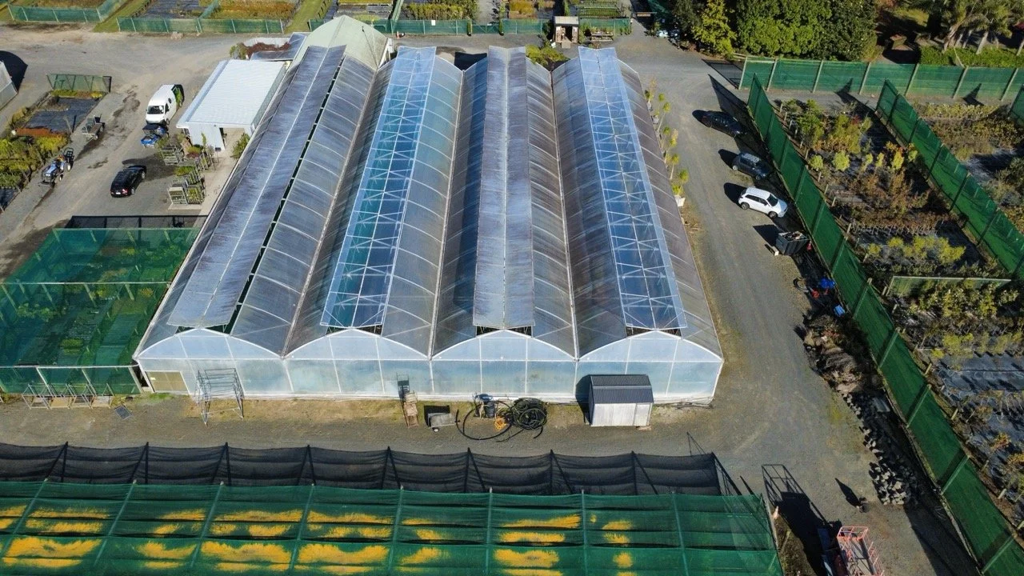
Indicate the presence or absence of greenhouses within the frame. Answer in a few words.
Yes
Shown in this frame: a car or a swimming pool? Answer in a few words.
car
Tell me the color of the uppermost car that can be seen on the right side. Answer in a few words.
black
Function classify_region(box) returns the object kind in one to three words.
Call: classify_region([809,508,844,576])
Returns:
trailer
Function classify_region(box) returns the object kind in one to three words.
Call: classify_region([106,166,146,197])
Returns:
car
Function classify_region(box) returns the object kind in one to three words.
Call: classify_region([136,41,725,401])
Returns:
greenhouse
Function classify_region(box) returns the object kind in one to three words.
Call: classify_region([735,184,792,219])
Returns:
car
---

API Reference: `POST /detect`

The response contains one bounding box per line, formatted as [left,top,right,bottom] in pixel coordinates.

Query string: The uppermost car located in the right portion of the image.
[704,110,752,138]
